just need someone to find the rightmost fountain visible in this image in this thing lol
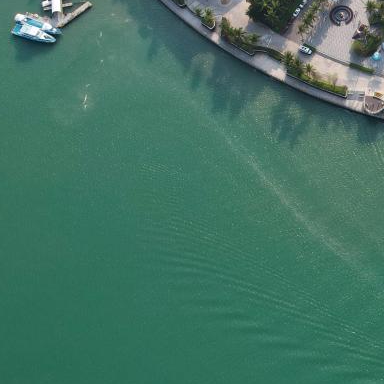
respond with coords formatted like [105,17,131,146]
[329,3,354,24]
